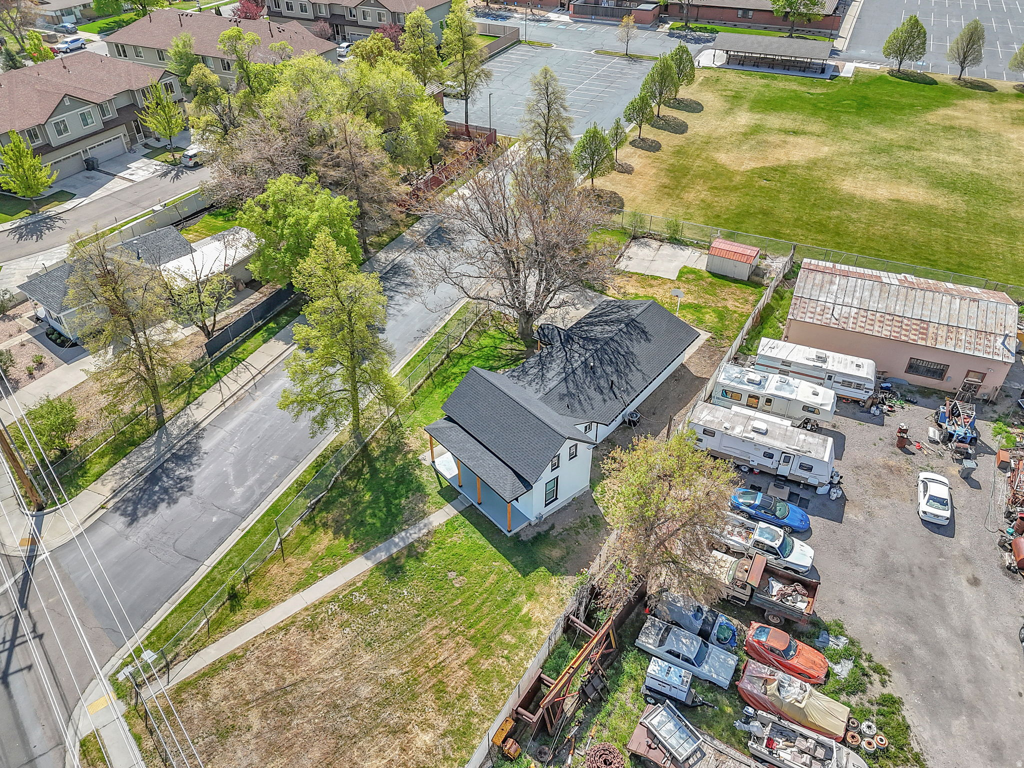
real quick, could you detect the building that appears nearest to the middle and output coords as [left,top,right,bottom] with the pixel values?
[424,299,702,537]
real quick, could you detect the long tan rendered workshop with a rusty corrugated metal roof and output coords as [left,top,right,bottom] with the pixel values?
[782,257,1024,405]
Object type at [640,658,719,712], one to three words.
trailer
